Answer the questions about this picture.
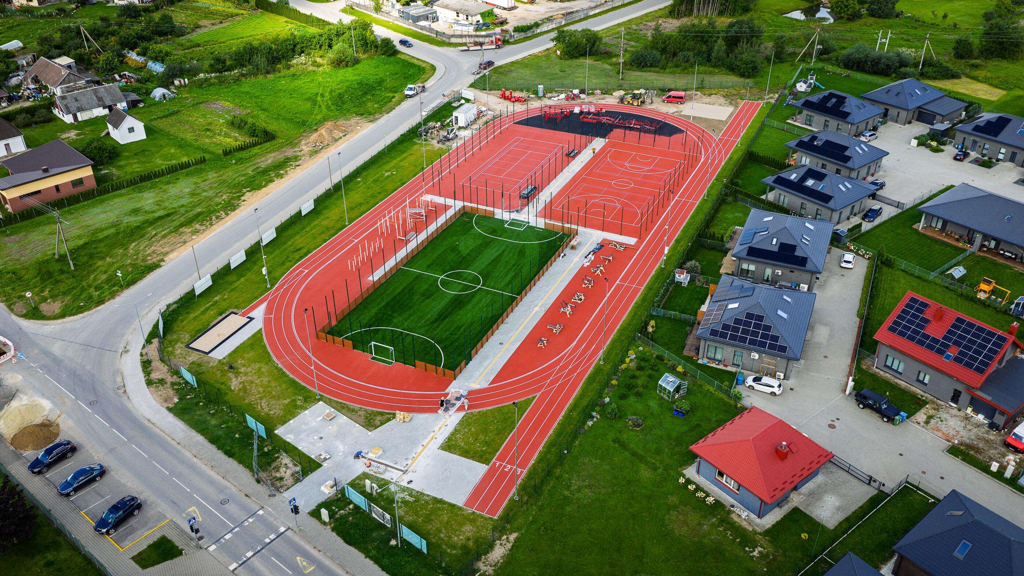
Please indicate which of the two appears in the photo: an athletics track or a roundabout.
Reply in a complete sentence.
Looking from above, you can make out an athletics track.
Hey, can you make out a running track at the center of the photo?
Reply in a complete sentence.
Yes, looking at the center of the photo, one can make out a running track.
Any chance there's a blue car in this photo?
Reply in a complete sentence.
Yes, I can see a blue car in this picture.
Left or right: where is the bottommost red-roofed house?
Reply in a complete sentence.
The bottommost red-roofed house is on the right side of the image.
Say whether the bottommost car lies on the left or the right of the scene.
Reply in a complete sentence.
The bottommost car appears in the left half of the scene.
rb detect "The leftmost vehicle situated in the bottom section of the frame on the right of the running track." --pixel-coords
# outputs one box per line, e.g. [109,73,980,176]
[745,377,784,398]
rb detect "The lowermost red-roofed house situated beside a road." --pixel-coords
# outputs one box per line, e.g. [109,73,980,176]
[688,406,837,518]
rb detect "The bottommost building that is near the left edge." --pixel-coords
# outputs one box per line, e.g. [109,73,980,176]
[0,139,98,213]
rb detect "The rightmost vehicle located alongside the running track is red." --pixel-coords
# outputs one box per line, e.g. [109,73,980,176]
[661,91,687,105]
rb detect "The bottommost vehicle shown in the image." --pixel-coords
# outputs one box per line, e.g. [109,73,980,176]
[94,496,144,535]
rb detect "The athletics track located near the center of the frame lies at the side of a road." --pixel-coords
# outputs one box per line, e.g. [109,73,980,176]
[262,103,715,413]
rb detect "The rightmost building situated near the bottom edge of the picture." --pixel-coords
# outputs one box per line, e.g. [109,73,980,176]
[891,489,1024,576]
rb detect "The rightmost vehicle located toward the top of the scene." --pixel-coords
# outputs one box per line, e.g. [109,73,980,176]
[954,150,971,162]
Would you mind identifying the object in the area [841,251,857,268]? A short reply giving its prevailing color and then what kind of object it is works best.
white car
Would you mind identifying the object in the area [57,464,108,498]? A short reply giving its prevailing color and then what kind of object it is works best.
blue car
